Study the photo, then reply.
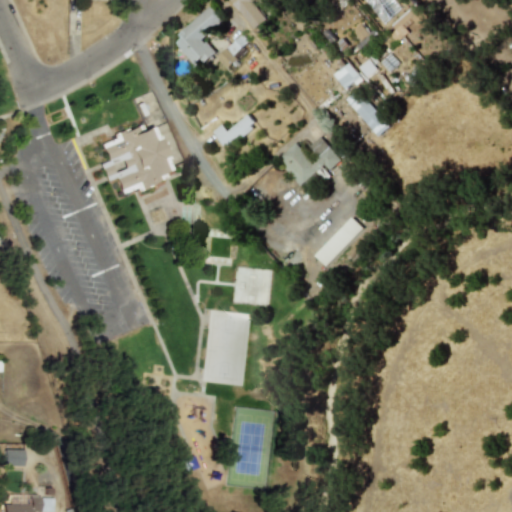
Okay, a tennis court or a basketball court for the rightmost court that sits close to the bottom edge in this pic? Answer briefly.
tennis court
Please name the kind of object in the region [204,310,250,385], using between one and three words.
sports court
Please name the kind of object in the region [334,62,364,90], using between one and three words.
house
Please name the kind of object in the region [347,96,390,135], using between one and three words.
house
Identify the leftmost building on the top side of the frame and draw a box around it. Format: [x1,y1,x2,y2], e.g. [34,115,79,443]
[102,122,182,194]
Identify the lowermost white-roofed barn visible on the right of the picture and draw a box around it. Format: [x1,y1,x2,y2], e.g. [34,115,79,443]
[314,216,365,266]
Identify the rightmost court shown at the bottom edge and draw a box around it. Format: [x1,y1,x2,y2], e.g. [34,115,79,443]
[228,407,275,486]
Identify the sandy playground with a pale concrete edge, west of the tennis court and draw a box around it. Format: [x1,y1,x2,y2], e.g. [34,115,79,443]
[170,386,230,489]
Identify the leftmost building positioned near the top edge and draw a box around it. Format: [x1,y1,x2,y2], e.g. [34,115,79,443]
[176,8,218,63]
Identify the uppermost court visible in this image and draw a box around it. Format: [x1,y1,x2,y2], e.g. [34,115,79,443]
[234,266,272,306]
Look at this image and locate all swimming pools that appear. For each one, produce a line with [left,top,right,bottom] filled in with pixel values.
[176,60,190,75]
